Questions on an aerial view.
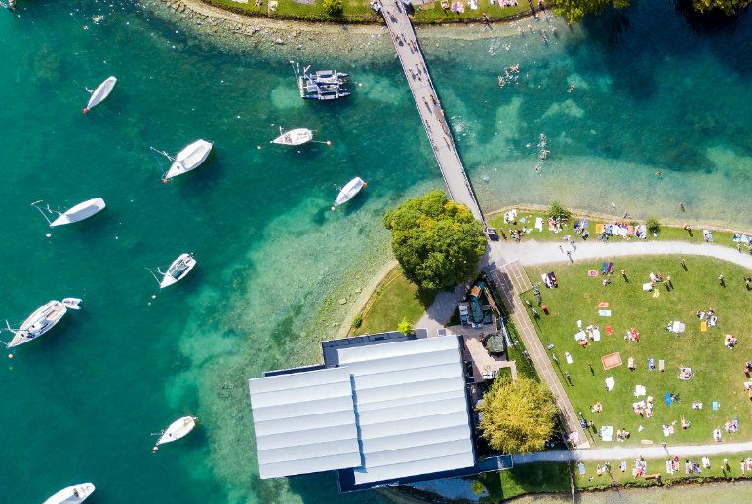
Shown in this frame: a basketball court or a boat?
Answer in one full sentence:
It is a boat that can be seen here.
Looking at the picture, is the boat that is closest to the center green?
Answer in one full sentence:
No, the color of the boat that is closest to the center is white.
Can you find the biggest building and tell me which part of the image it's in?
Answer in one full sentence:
The biggest building appears toward the bottom of the photo.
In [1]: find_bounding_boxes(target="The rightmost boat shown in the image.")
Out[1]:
[334,176,368,208]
